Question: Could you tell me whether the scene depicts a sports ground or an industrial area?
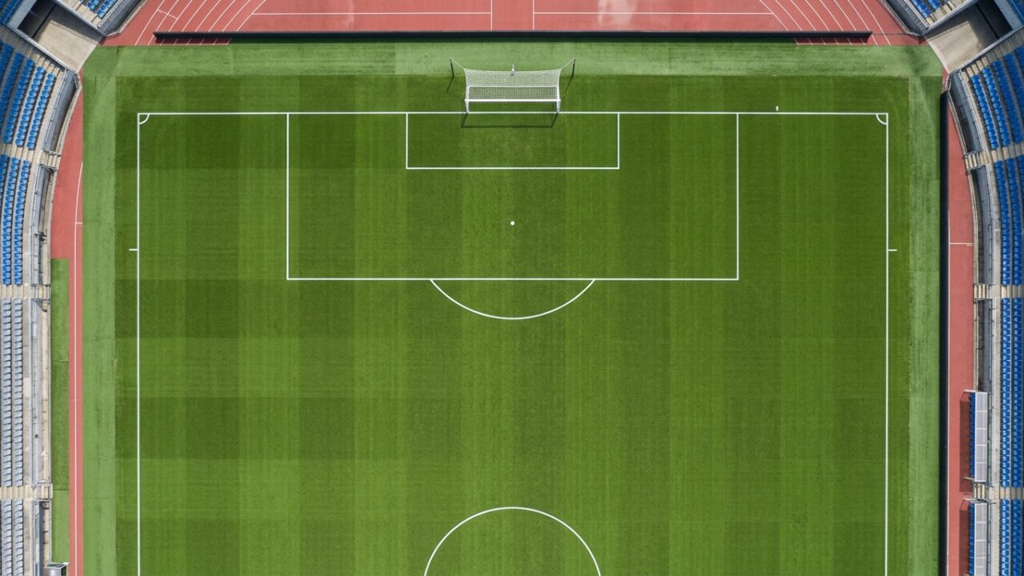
sports ground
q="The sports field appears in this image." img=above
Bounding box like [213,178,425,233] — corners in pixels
[115,76,910,576]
